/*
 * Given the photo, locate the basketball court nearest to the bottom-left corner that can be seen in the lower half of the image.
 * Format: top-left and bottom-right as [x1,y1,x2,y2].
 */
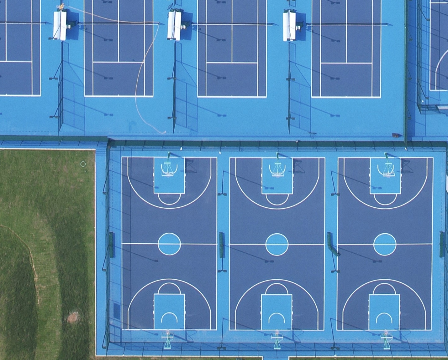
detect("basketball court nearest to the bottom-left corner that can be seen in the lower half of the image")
[122,157,217,330]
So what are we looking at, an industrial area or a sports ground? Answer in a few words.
sports ground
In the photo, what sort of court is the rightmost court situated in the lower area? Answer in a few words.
basketball court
